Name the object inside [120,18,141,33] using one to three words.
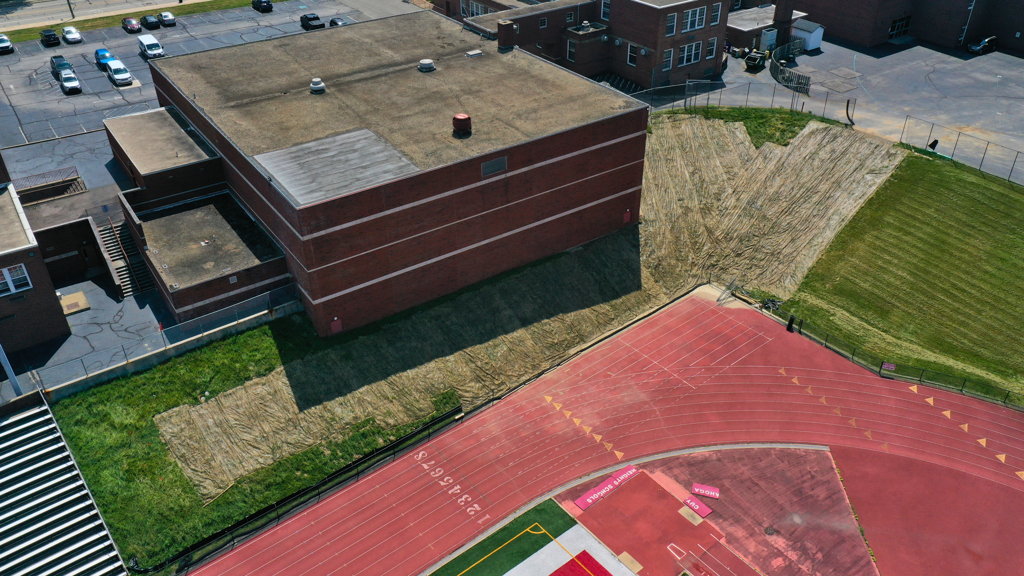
car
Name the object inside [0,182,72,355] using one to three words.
building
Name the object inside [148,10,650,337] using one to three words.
building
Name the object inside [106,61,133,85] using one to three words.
vehicle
